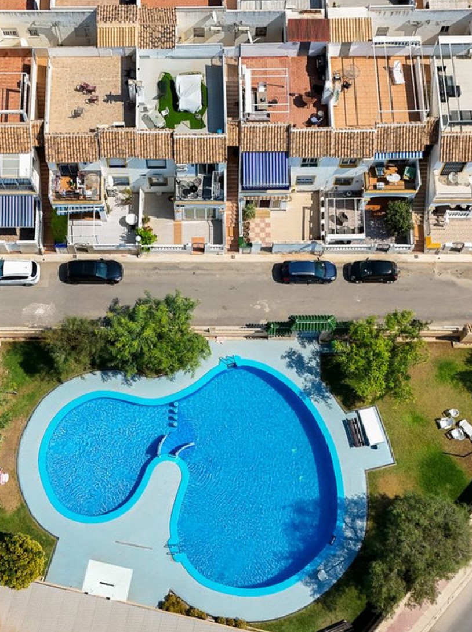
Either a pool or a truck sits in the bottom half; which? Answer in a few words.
pool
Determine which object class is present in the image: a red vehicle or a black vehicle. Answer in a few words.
black vehicle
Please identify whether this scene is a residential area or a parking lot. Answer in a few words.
residential area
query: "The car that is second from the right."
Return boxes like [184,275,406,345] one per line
[280,257,336,286]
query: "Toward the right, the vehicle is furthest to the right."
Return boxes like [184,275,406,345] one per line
[347,256,401,286]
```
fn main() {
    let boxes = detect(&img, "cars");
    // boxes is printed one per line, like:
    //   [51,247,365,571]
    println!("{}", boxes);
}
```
[0,257,40,287]
[347,256,401,286]
[280,257,336,286]
[67,256,123,286]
